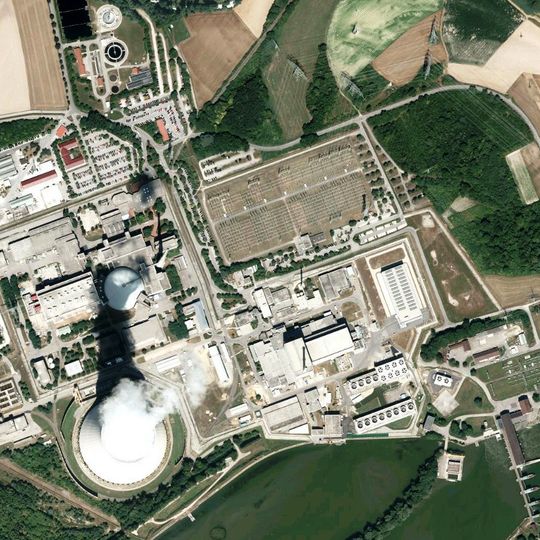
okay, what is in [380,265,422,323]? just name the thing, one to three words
building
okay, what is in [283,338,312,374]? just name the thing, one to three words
building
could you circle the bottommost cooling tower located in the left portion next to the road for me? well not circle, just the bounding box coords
[77,394,168,486]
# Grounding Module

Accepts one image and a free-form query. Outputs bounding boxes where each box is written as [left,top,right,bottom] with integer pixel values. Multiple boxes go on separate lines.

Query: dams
[513,464,540,531]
